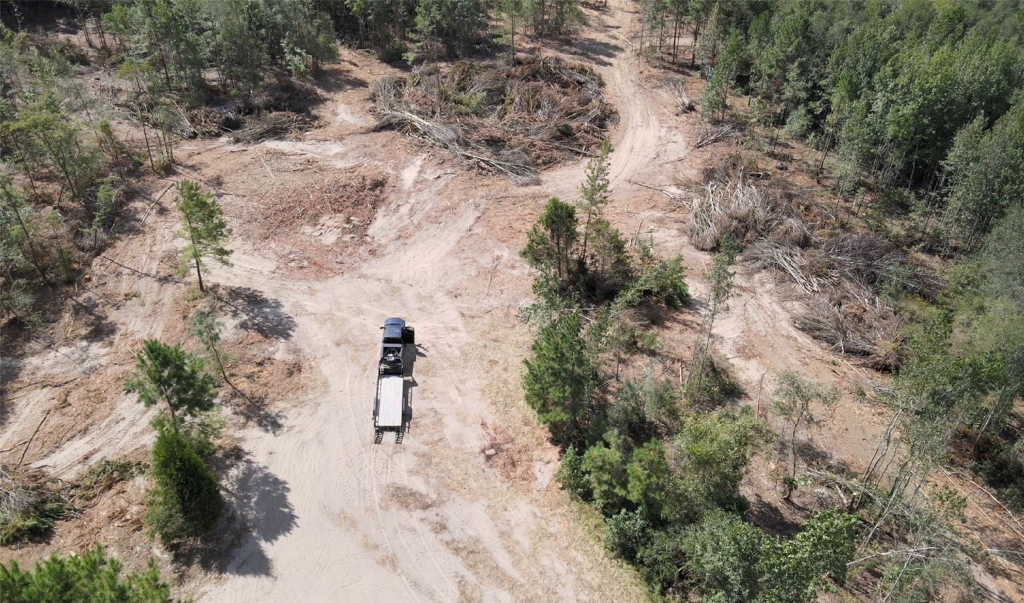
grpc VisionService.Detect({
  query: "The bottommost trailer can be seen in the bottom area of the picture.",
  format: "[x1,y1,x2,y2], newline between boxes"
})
[369,343,408,447]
